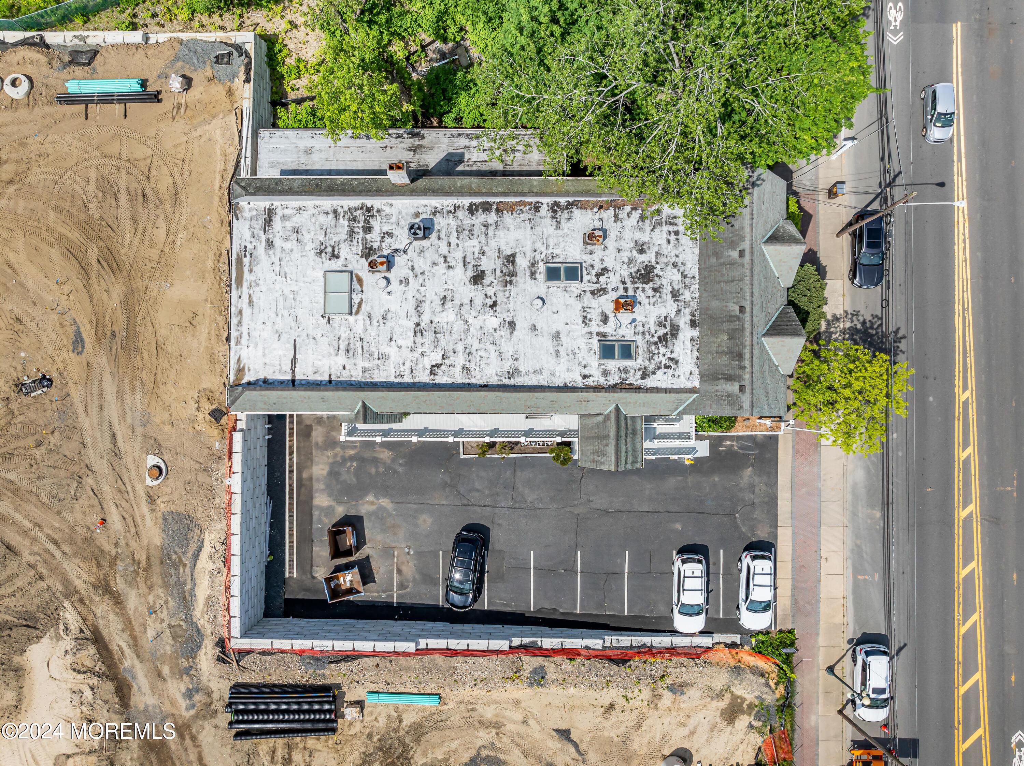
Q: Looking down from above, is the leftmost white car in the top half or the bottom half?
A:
bottom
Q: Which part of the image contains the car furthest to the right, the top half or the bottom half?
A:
top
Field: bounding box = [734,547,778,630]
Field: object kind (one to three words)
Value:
car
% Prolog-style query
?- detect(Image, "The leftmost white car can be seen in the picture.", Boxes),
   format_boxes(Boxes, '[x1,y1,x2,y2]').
[670,549,711,632]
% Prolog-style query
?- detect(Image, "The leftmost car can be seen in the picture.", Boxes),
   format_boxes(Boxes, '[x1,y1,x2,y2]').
[441,529,485,613]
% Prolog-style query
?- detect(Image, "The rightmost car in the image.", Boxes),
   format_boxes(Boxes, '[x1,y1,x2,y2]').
[915,80,960,147]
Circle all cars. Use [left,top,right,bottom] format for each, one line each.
[670,549,711,632]
[441,529,485,613]
[846,639,895,723]
[734,547,778,630]
[915,80,960,147]
[843,211,889,291]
